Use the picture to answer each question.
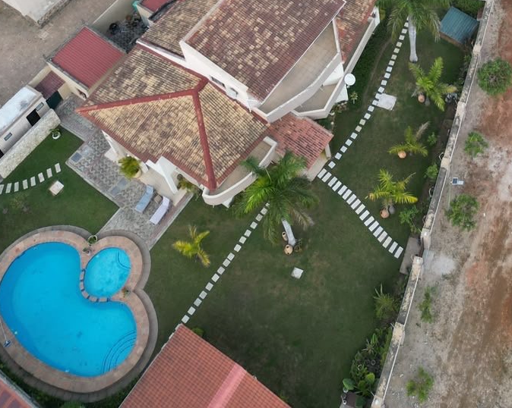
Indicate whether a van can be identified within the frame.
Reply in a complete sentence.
No, I can't see a single van in this photo.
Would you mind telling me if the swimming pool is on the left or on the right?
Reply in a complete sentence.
You can find the swimming pool on the left side of the picture.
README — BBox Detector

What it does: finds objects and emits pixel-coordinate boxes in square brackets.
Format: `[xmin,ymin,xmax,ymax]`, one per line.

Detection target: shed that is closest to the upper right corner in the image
[440,6,480,57]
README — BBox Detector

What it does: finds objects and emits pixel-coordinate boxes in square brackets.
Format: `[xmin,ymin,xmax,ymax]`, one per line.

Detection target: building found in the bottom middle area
[122,325,292,408]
